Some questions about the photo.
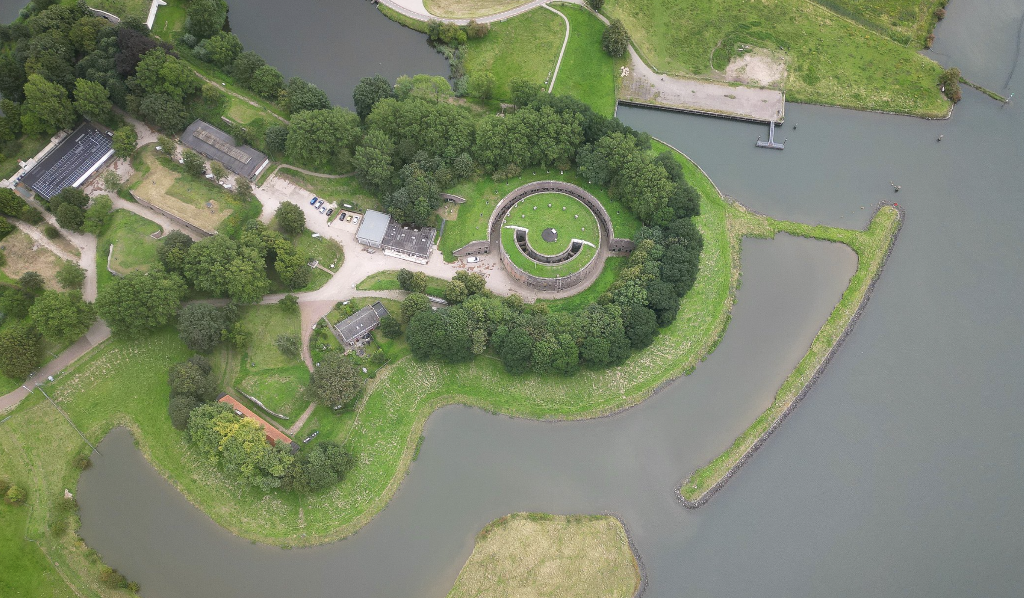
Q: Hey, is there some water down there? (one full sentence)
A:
Yes, the picture does contain water.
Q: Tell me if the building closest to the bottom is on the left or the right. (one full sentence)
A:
The building closest to the bottom sits on the left side.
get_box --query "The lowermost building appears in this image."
[213,389,302,458]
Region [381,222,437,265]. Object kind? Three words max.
building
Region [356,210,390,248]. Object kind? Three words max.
building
